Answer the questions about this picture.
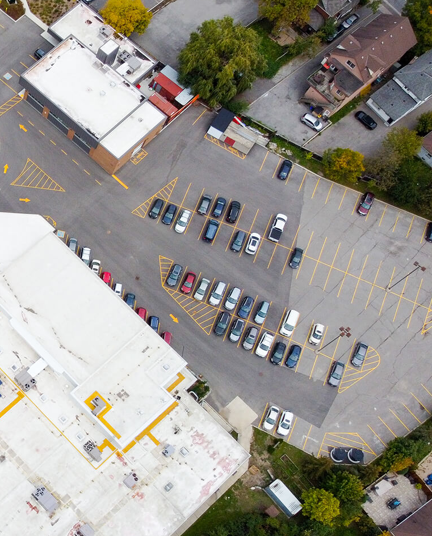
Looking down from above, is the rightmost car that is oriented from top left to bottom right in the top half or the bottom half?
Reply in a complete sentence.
The rightmost car that is oriented from top left to bottom right sits in the top half of the picture.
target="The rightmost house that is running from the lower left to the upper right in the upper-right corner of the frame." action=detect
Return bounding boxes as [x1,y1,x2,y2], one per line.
[363,49,432,131]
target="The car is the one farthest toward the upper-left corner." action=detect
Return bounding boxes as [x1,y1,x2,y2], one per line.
[29,45,48,59]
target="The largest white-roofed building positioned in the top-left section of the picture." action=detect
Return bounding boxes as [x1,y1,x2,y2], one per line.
[18,2,166,174]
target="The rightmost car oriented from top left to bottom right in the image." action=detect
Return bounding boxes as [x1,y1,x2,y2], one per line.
[353,110,378,131]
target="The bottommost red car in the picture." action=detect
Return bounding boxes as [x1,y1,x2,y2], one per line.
[161,329,173,348]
